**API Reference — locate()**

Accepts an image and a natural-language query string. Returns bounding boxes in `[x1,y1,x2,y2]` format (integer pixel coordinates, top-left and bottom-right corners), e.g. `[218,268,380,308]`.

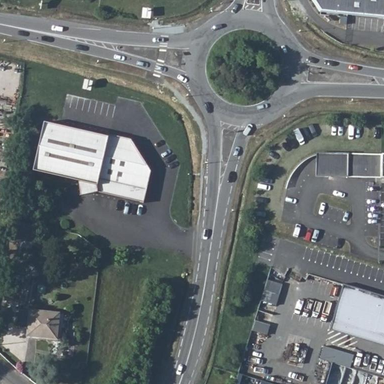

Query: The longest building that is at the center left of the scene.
[33,121,152,203]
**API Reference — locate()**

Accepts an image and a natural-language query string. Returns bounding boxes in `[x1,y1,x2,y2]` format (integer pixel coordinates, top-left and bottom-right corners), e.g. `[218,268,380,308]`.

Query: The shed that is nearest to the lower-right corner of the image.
[319,346,354,368]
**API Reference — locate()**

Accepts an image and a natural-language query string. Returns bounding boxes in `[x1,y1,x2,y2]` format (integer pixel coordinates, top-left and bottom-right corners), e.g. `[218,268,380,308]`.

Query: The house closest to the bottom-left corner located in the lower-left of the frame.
[26,310,62,340]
